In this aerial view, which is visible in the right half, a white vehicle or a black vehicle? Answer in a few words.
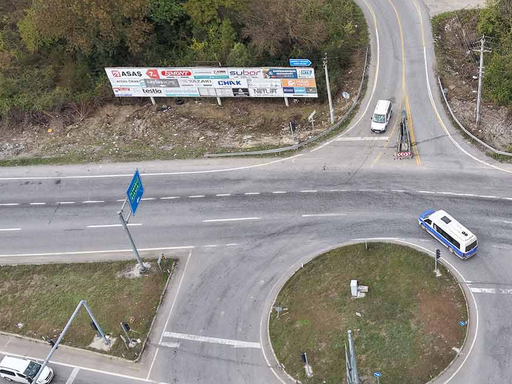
white vehicle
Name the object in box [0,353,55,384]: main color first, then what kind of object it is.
white vehicle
